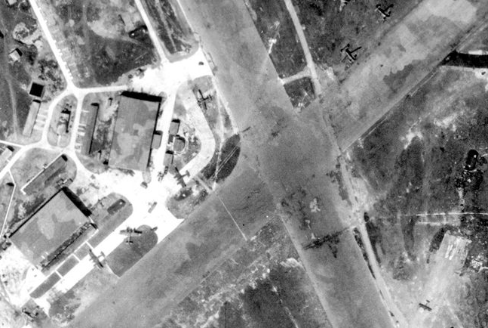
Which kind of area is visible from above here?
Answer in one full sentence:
What you see here is an airport.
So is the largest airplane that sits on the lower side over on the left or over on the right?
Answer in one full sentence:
It is on the right.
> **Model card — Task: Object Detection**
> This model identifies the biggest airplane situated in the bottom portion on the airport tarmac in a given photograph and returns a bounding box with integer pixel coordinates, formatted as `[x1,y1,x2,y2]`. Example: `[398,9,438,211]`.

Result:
[306,231,339,255]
